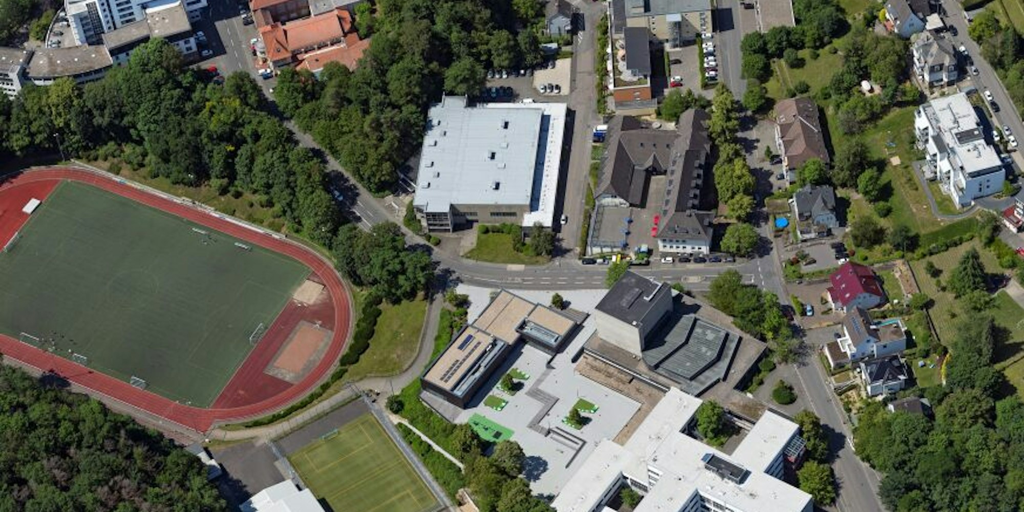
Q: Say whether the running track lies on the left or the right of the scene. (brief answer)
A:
left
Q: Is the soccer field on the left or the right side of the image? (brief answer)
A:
left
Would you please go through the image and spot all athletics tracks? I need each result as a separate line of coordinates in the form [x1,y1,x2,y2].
[0,159,360,436]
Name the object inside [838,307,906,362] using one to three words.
house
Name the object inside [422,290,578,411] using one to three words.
building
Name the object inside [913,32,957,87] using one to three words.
house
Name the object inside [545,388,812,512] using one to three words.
building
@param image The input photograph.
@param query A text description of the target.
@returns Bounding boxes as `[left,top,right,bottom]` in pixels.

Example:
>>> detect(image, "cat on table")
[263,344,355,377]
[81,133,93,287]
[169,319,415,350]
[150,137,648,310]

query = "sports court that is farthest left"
[263,320,334,386]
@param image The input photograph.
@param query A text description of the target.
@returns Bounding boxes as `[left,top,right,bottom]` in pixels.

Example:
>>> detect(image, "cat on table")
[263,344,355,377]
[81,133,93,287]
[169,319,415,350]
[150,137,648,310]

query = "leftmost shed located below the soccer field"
[186,443,223,486]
